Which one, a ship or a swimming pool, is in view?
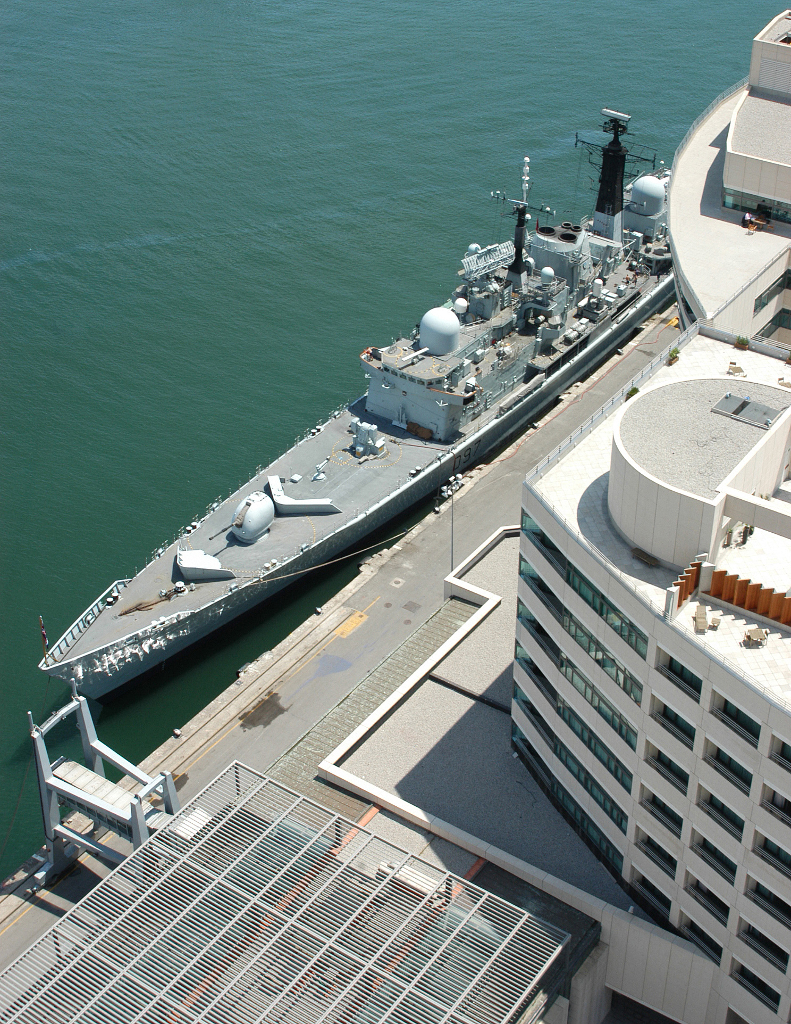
ship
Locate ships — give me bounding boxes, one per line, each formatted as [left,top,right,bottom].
[35,107,673,706]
